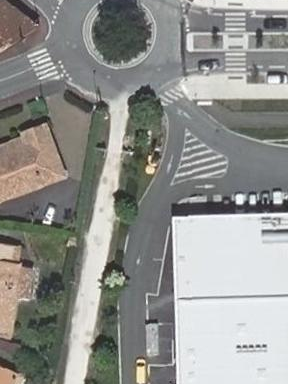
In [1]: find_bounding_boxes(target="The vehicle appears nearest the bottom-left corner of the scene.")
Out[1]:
[135,358,147,384]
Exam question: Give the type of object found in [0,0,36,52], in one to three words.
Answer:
house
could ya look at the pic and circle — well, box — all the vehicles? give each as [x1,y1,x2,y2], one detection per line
[248,194,258,214]
[198,60,220,70]
[235,194,246,214]
[260,193,272,214]
[273,192,284,214]
[264,18,287,29]
[212,195,222,215]
[135,358,147,384]
[222,198,232,215]
[43,205,56,225]
[266,73,288,84]
[146,154,156,175]
[180,196,208,208]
